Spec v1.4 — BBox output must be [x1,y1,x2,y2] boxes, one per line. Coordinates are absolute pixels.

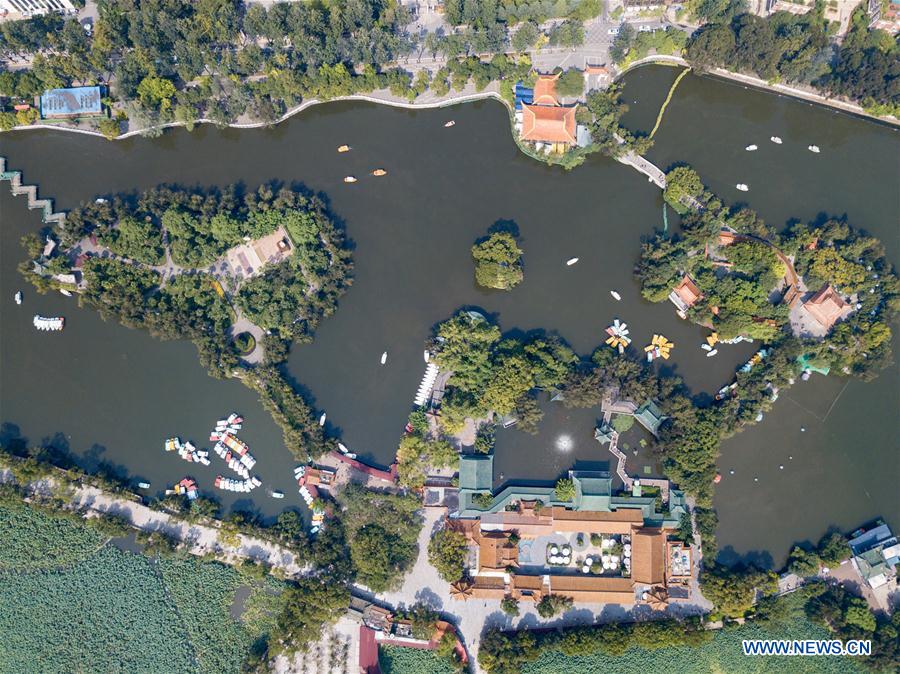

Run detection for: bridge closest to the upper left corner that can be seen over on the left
[0,155,67,230]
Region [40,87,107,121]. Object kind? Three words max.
building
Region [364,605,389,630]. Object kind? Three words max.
house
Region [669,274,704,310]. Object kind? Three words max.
building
